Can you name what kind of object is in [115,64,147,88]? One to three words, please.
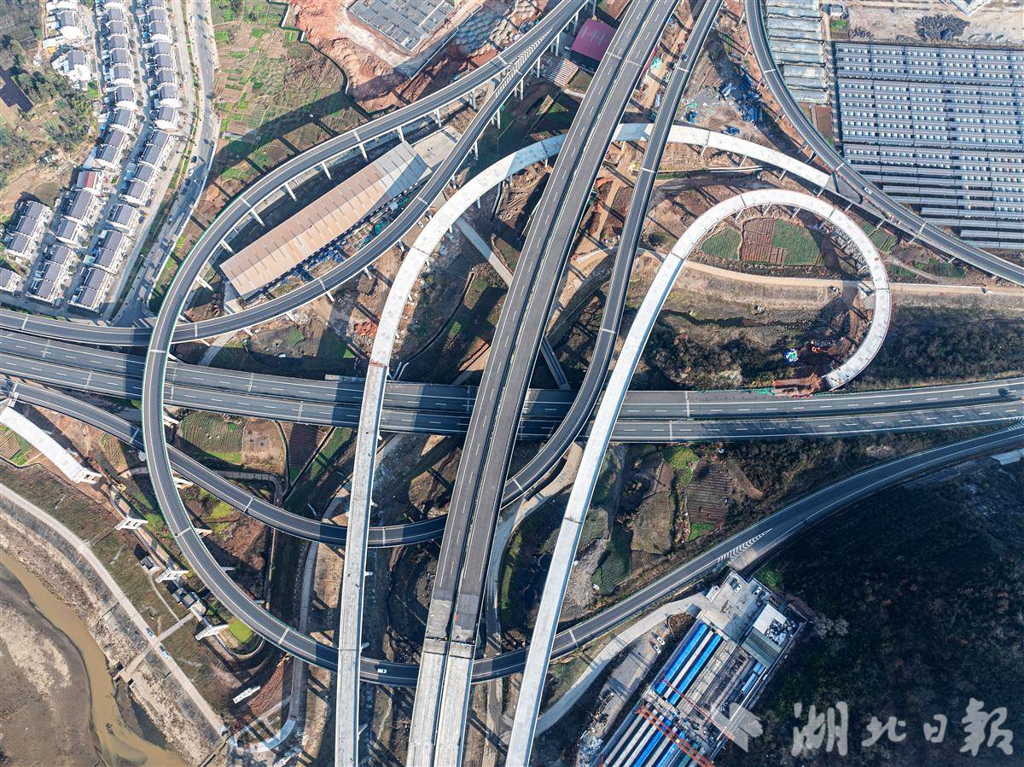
house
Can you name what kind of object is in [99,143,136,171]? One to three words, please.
house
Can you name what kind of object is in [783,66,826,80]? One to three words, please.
greenhouse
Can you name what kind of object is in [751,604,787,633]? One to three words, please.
shed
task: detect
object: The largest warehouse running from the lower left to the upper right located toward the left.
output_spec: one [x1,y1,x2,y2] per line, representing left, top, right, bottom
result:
[220,141,434,299]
